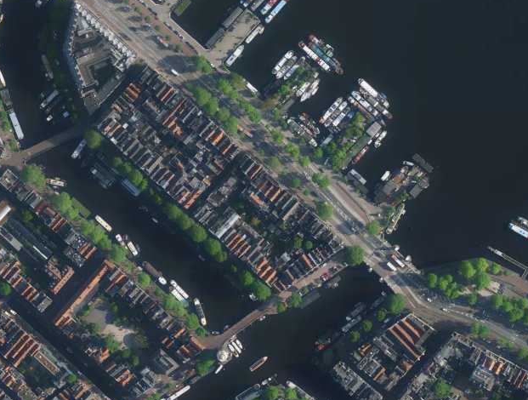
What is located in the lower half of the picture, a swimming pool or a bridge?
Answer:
bridge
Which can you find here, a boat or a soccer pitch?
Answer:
boat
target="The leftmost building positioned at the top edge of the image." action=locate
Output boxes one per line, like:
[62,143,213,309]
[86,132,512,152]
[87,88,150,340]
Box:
[68,1,138,114]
